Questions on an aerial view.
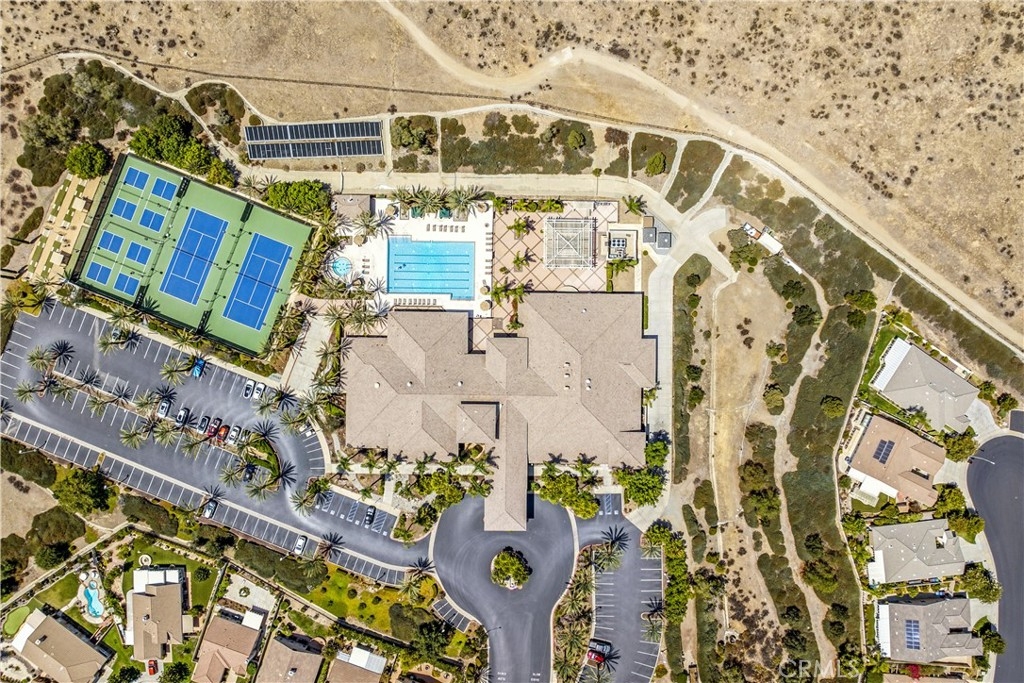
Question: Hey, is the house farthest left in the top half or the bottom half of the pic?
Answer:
bottom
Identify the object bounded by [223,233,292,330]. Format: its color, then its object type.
blue tennis court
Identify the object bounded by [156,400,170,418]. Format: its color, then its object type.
white car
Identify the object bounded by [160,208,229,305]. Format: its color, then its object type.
blue tennis court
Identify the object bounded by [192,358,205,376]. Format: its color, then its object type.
blue vehicle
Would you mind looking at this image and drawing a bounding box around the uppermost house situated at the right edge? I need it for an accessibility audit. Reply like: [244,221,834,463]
[869,338,980,435]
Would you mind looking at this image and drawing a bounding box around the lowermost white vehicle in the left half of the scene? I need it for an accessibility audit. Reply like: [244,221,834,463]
[295,536,307,554]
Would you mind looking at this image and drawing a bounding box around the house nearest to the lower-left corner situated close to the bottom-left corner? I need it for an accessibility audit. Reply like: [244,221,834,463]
[11,606,123,683]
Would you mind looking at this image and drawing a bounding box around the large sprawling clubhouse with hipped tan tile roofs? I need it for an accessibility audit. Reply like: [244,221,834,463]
[346,292,657,531]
